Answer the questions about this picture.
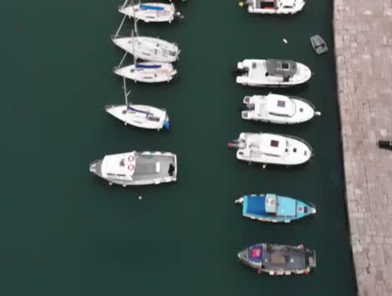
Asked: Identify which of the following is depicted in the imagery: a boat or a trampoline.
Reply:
boat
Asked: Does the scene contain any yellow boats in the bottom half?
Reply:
No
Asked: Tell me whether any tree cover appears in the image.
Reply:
No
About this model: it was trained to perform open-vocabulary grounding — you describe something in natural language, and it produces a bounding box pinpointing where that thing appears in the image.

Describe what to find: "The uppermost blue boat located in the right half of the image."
[230,191,317,227]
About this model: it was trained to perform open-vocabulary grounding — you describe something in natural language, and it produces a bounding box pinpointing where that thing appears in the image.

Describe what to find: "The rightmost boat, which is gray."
[309,35,329,57]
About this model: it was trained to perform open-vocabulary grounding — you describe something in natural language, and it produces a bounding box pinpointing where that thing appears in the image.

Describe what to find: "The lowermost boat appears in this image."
[238,240,314,280]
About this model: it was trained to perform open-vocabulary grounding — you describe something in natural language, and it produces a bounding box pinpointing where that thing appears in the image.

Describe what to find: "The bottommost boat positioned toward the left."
[88,141,177,191]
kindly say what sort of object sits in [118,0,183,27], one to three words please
boat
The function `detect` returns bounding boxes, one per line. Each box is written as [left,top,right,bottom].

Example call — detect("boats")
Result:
[114,28,185,88]
[230,191,317,227]
[242,93,324,126]
[228,132,313,169]
[88,141,177,191]
[309,35,329,57]
[242,0,307,18]
[105,60,174,133]
[114,0,181,64]
[118,0,183,27]
[235,59,313,88]
[238,240,314,280]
